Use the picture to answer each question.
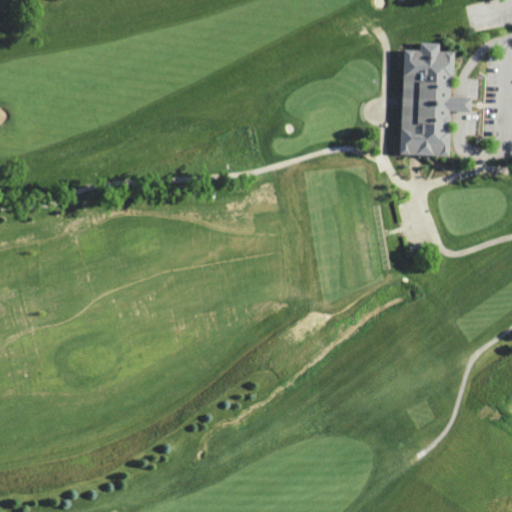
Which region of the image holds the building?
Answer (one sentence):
You can find the building in the top right area of the picture.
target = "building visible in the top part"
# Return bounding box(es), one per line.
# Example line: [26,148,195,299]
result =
[400,43,470,158]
